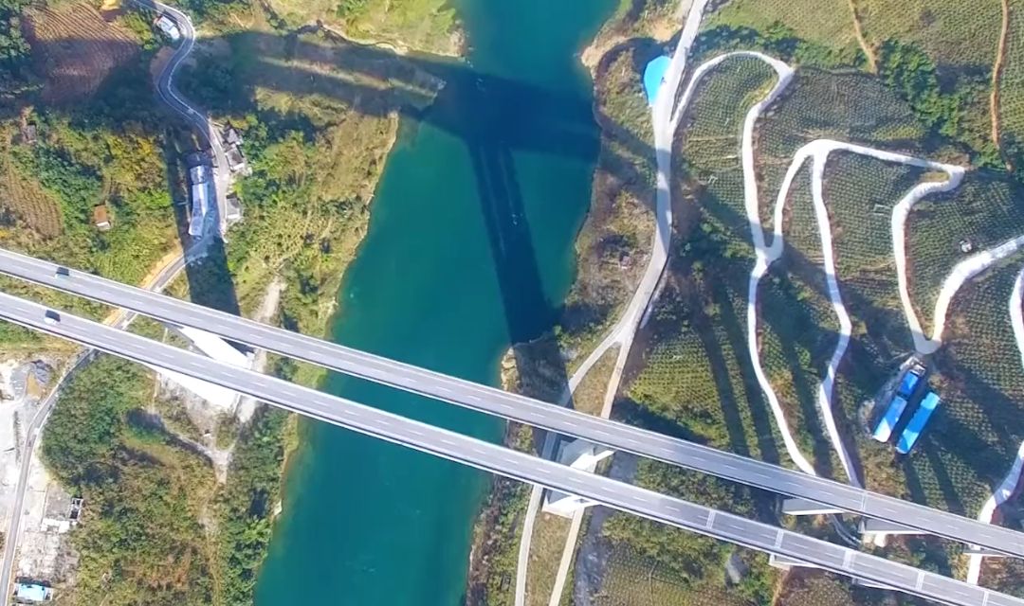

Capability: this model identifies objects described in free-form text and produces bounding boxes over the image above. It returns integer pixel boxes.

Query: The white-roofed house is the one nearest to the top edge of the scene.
[157,21,186,41]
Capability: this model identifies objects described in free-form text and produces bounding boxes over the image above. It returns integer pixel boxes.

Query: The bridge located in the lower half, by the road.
[0,250,1024,561]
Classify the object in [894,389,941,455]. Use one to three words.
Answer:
building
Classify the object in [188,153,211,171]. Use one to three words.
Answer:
house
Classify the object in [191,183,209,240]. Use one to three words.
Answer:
shed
